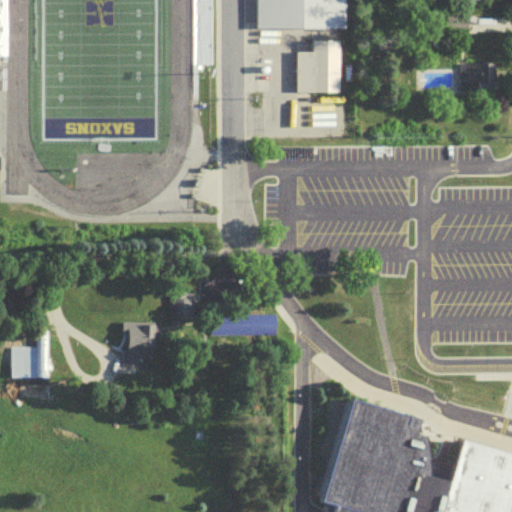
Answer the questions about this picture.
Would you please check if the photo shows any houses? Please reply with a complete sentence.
Yes, this view includes a house.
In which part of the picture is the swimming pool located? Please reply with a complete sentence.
You can find the swimming pool in the top right area of the picture.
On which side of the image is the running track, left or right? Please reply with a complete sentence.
You can find the running track on the left side of the picture.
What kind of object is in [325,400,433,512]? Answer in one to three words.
building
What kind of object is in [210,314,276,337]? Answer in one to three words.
shed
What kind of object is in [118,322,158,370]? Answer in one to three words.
house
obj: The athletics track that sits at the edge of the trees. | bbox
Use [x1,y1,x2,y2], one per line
[7,0,192,214]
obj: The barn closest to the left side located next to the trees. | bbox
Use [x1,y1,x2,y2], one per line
[11,331,54,380]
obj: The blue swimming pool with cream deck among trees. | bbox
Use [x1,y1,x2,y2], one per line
[416,69,454,90]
